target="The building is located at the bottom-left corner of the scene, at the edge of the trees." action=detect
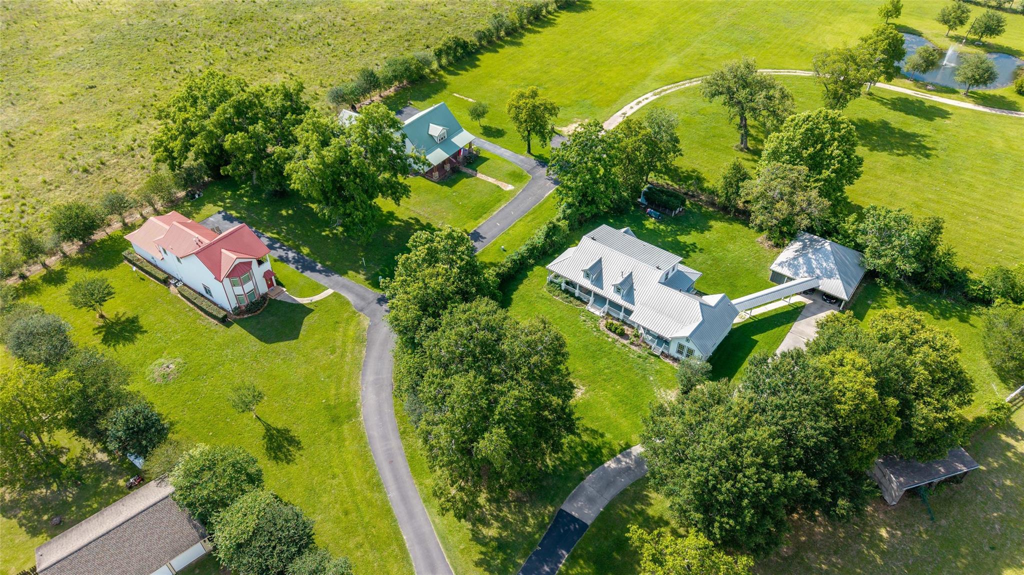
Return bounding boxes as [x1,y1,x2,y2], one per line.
[36,466,217,575]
